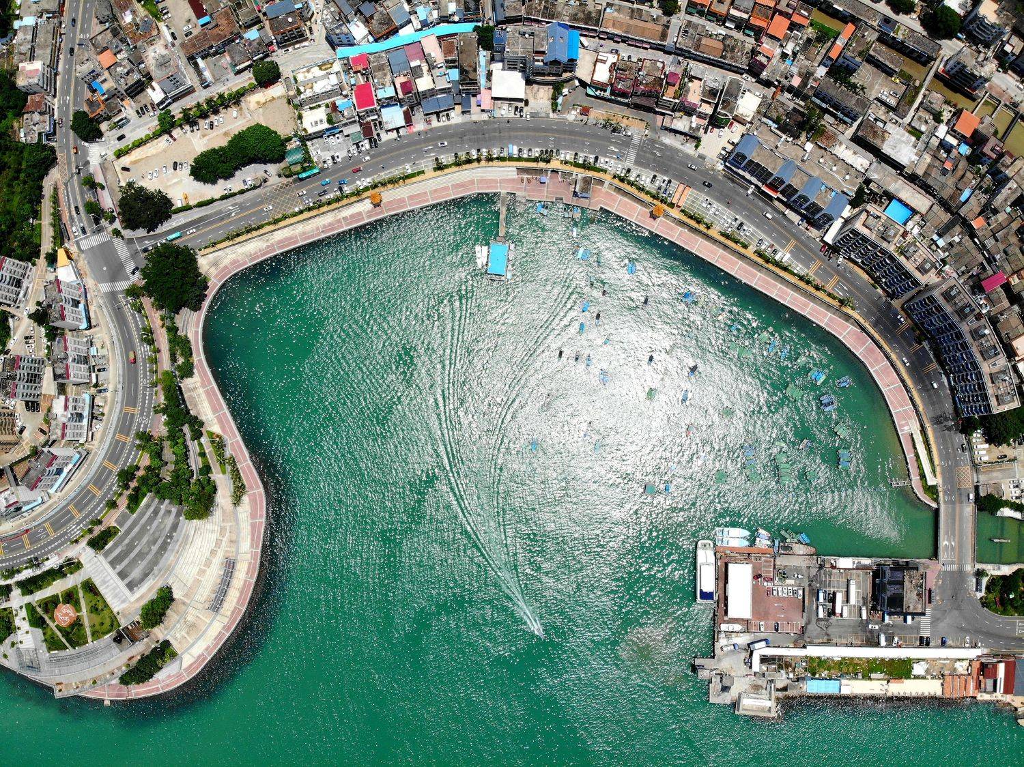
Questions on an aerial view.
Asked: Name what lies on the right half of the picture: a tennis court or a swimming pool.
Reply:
swimming pool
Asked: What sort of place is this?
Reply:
residential area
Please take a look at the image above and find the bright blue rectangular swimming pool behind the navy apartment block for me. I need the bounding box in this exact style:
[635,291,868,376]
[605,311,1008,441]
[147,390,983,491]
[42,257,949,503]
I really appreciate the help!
[879,197,916,227]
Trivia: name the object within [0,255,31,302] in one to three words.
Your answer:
building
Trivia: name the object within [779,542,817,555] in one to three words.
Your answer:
ship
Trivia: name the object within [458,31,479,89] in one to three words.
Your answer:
house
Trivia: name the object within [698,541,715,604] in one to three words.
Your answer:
ship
